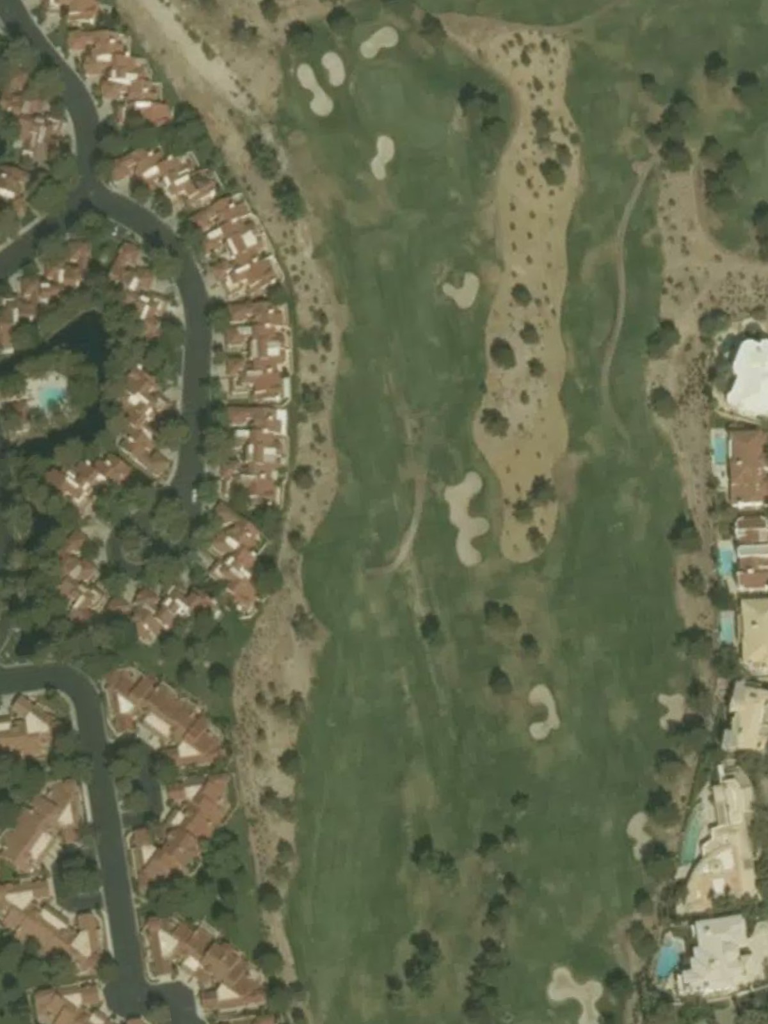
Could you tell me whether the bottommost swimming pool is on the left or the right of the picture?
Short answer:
right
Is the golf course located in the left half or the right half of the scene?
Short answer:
right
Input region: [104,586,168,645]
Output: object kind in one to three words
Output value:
house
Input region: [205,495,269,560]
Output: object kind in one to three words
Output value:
house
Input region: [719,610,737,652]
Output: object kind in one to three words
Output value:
swimming pool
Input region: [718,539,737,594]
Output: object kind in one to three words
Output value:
swimming pool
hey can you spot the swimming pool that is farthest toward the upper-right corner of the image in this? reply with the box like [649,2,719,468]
[711,428,728,491]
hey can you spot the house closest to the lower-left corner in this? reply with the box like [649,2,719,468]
[28,980,107,1024]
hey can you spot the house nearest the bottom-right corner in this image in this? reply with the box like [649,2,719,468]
[671,915,768,1022]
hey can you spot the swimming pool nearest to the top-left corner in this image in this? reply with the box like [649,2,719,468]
[26,372,69,430]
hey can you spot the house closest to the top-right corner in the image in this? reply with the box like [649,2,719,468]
[710,318,768,422]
